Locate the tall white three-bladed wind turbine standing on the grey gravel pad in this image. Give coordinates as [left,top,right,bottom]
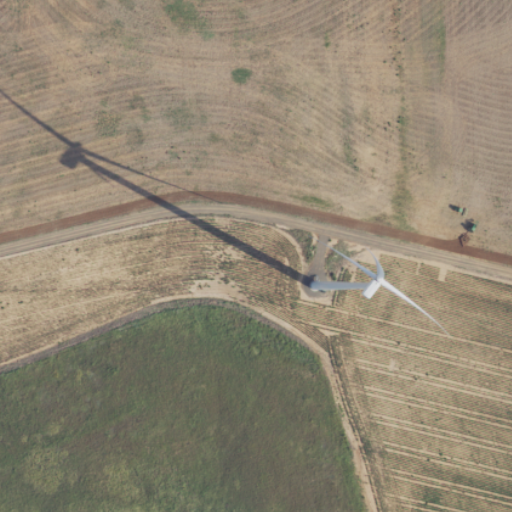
[310,244,448,336]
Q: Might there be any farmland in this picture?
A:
Yes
